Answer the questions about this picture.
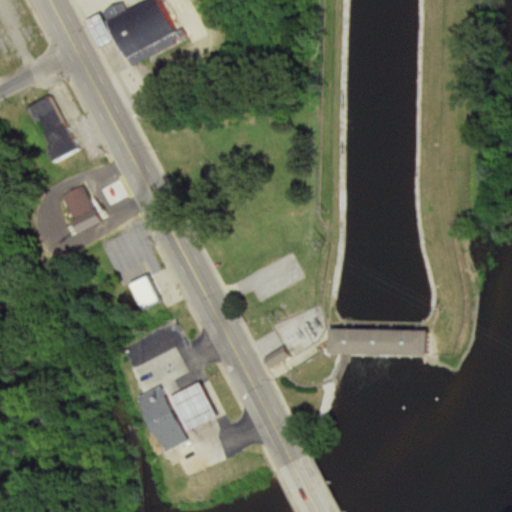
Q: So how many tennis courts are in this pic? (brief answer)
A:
0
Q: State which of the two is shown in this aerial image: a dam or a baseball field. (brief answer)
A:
dam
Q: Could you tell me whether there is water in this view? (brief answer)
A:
Yes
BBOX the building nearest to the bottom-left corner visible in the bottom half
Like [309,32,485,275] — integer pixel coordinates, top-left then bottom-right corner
[139,386,188,450]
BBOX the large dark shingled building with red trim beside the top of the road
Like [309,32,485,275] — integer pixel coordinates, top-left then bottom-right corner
[103,0,185,64]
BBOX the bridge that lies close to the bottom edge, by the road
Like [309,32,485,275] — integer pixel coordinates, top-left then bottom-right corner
[273,454,342,512]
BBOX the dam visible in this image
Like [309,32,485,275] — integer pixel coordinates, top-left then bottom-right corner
[324,321,440,383]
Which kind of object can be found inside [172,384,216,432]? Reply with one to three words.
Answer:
building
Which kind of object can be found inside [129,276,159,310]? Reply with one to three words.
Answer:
building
